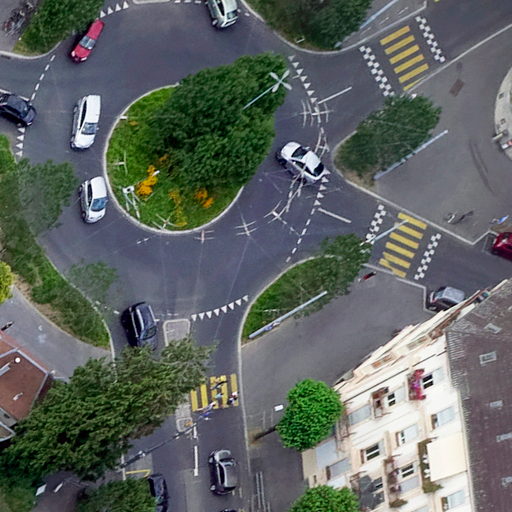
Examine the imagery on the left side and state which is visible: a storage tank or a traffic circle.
traffic circle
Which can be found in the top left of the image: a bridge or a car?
car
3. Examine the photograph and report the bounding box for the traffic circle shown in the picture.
[38,19,318,299]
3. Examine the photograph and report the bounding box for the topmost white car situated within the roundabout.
[71,96,100,147]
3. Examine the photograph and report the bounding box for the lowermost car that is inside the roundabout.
[80,176,109,220]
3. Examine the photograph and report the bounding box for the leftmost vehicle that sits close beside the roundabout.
[0,86,38,126]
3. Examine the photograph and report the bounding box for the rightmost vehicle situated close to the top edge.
[204,0,240,28]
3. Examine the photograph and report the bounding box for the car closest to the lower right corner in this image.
[422,278,464,308]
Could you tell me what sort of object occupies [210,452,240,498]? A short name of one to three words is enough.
car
